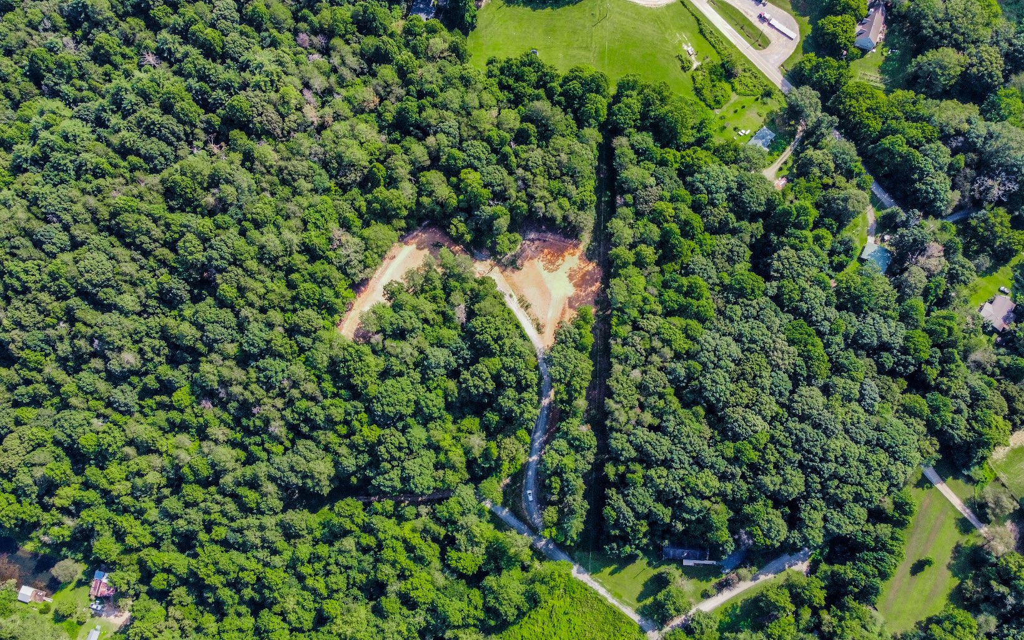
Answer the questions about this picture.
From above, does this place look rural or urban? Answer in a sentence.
From above, the setting appears rural.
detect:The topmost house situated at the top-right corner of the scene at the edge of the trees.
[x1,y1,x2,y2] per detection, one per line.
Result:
[852,0,889,47]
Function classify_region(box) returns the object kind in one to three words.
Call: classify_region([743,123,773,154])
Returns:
house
